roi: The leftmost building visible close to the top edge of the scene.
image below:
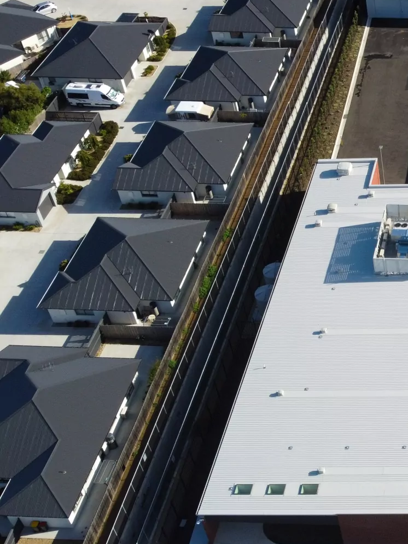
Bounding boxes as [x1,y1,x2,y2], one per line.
[0,3,60,70]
